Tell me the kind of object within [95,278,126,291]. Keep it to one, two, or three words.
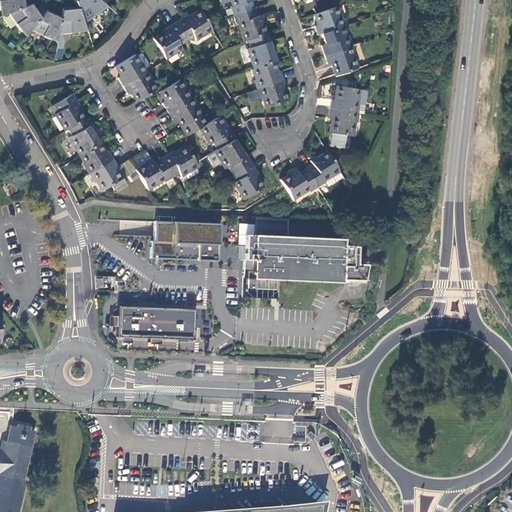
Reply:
shed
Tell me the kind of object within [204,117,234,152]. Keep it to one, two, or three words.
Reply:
house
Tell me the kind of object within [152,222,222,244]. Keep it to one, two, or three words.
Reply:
building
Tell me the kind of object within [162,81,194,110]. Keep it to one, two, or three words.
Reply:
house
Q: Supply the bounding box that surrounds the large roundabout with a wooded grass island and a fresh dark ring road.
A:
[314,290,512,512]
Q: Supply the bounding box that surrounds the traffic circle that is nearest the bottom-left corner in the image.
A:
[44,338,112,402]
